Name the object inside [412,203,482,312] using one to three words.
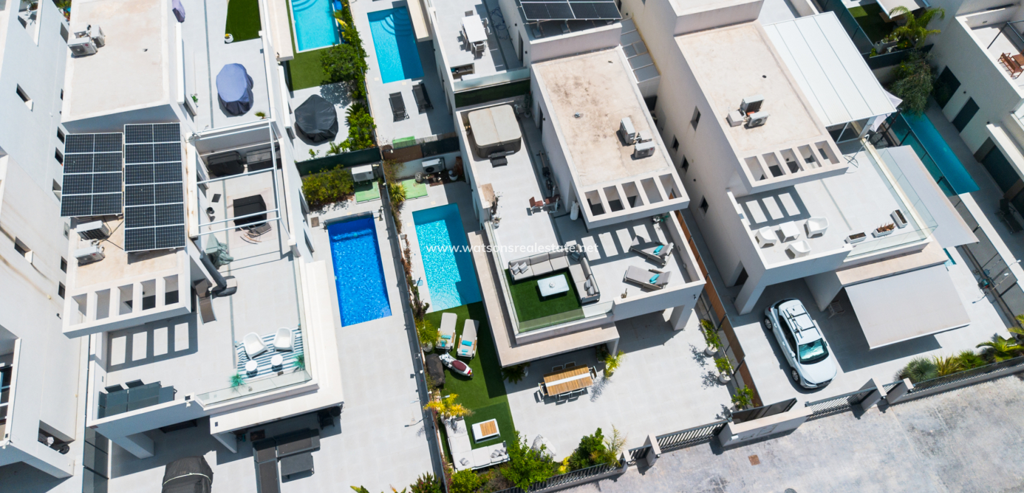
swimming pool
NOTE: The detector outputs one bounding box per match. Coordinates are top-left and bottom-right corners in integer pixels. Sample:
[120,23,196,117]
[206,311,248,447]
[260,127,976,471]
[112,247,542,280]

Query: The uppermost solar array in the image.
[523,0,619,33]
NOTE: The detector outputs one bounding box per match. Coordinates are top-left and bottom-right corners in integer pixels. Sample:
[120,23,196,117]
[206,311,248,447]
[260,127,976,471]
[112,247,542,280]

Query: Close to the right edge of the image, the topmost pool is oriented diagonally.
[883,90,979,196]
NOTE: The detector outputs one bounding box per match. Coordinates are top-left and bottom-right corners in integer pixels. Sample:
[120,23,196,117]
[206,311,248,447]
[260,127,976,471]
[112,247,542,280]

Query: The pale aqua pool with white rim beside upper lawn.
[288,0,342,53]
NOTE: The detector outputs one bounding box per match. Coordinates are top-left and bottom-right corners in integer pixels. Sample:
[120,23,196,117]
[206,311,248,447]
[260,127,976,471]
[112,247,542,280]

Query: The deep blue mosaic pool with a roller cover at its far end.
[326,214,392,327]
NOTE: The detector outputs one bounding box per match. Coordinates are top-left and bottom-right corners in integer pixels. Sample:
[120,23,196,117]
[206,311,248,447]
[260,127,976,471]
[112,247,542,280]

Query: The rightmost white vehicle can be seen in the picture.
[768,297,835,388]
